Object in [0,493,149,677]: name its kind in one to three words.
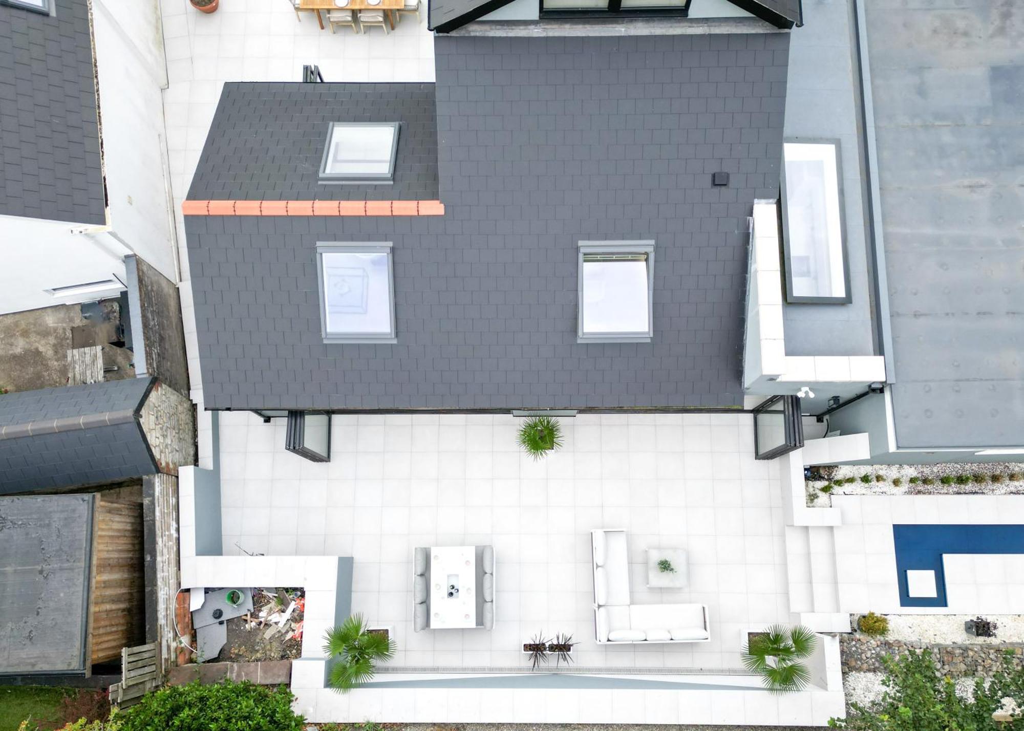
shed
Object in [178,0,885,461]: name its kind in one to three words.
house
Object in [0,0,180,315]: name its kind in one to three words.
house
